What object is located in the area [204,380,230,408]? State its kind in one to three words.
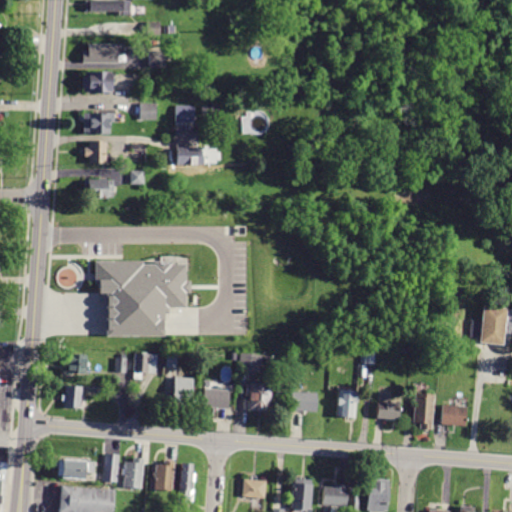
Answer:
house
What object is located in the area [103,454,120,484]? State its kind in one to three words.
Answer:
house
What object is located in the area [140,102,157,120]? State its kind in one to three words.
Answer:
building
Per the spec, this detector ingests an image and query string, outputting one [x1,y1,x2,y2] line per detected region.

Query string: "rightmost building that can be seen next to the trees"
[482,308,510,347]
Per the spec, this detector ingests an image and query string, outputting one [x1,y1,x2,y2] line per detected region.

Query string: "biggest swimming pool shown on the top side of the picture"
[251,115,268,132]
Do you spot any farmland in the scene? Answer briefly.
No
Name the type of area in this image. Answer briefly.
residential area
